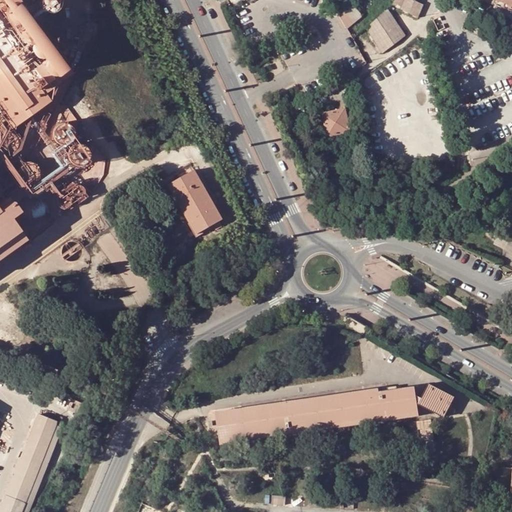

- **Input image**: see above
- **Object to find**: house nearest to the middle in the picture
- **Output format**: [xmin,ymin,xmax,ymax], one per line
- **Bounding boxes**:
[172,162,222,237]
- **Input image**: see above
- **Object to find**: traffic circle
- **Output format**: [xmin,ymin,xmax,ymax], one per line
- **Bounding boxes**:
[284,236,360,310]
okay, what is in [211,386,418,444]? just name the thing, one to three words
building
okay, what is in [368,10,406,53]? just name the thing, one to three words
barn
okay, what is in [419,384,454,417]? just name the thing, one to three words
shed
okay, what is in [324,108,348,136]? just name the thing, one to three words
house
